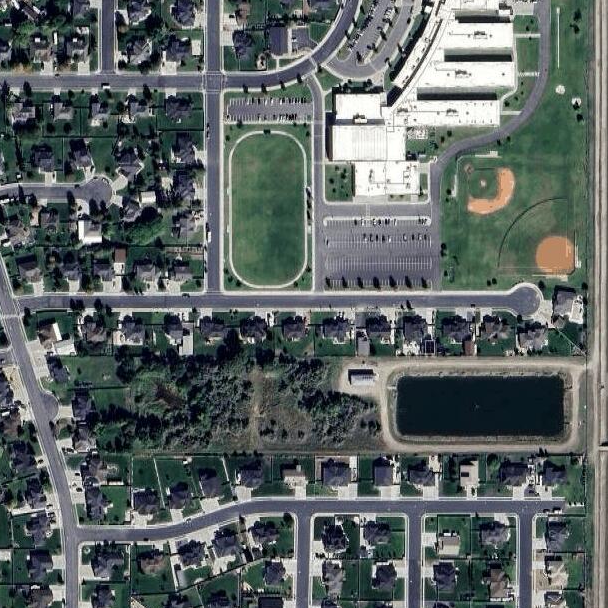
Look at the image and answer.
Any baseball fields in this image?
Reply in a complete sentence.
Yes, this view includes a baseball field.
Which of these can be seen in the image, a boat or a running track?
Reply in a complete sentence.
Visible in the photo is a running track.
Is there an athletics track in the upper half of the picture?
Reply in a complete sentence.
Yes, an athletics track shows up in the upper half of the picture.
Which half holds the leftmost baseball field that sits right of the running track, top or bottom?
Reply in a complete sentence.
Seen from above, the leftmost baseball field that sits right of the running track lies in the top half of the view.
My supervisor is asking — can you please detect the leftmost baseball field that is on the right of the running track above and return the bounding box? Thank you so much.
[466,166,513,215]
